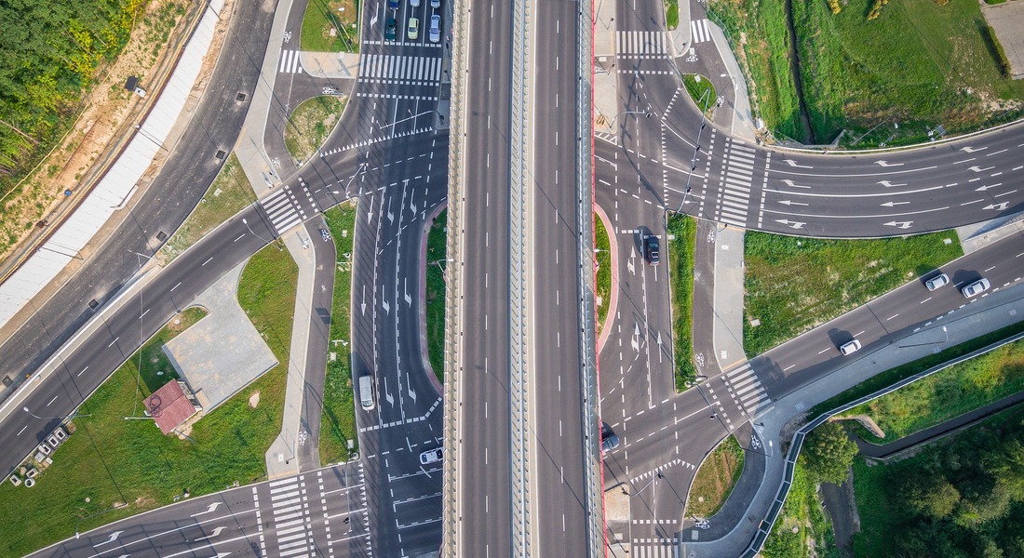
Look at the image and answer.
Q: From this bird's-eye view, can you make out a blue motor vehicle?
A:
Yes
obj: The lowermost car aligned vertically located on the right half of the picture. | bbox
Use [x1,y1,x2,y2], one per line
[647,235,661,265]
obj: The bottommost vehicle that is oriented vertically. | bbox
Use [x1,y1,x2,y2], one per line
[358,376,374,412]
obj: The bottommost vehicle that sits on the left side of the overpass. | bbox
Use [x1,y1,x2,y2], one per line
[418,448,442,466]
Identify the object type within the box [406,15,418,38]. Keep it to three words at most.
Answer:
vehicle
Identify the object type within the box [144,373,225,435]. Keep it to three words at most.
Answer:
shed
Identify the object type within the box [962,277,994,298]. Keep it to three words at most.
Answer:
car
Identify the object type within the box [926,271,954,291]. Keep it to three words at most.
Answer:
car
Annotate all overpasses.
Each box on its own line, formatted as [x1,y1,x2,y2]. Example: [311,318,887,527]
[440,0,603,558]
